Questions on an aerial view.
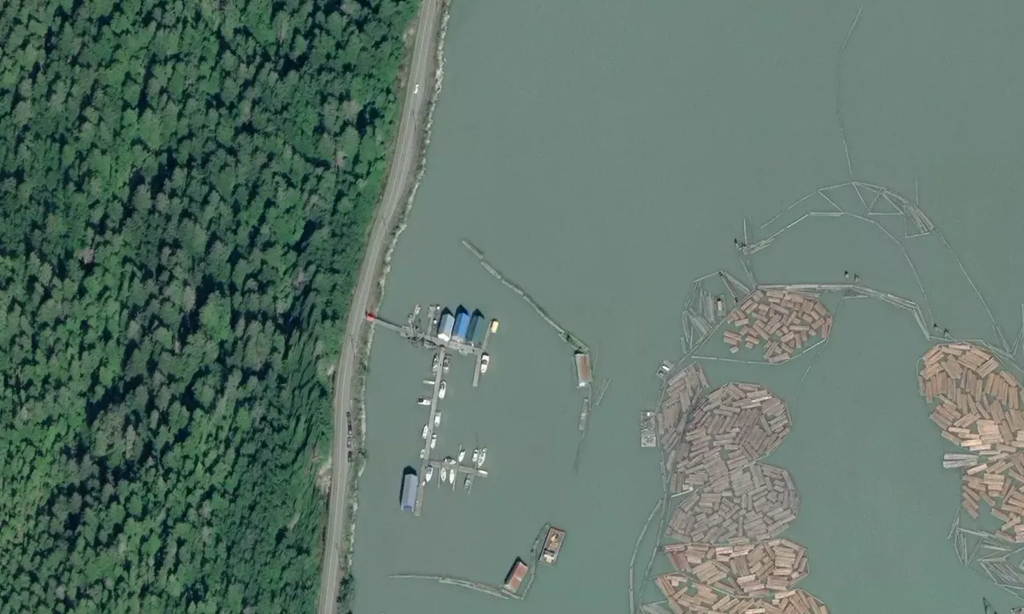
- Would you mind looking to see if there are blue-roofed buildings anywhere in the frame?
Yes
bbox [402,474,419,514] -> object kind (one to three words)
building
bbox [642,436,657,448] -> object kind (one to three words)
ship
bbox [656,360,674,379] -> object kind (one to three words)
ship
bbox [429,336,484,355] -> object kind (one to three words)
pier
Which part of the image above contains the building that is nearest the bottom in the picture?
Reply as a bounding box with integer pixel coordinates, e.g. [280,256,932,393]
[504,562,529,595]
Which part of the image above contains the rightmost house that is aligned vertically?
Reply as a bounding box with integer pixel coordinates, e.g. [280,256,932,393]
[575,354,593,386]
